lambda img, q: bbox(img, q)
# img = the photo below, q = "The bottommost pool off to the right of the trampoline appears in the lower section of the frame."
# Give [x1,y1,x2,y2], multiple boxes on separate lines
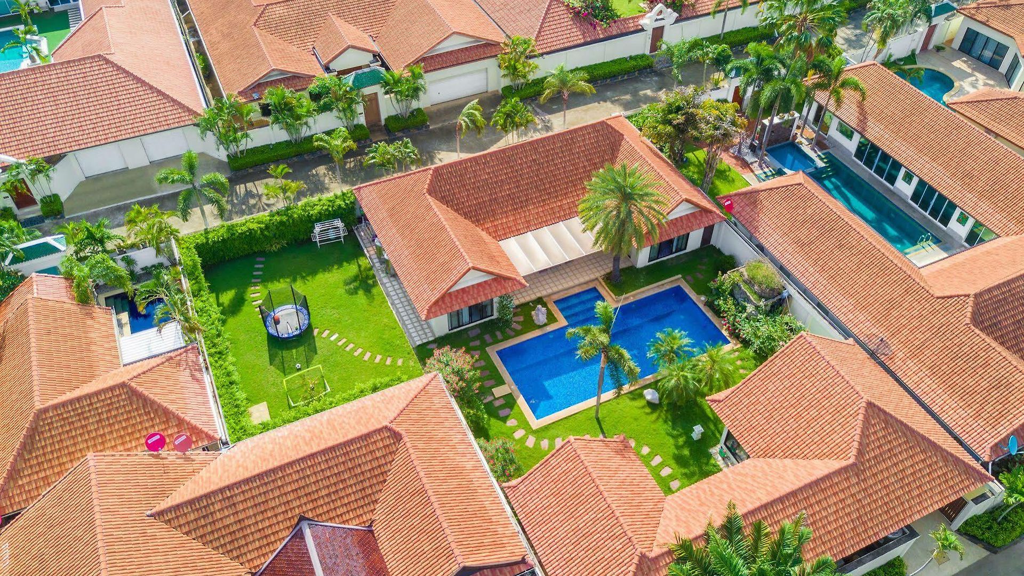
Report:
[485,272,741,428]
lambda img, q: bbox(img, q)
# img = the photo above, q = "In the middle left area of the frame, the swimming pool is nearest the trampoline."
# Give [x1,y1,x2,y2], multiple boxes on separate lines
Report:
[105,274,184,332]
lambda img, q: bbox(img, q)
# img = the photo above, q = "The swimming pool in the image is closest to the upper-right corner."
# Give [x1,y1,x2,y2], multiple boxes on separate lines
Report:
[883,63,958,116]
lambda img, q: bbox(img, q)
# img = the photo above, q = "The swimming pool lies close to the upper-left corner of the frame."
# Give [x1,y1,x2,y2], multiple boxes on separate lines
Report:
[0,22,51,72]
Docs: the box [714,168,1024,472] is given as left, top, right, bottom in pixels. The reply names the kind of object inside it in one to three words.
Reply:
house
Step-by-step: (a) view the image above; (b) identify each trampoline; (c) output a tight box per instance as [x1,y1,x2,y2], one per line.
[255,284,312,347]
